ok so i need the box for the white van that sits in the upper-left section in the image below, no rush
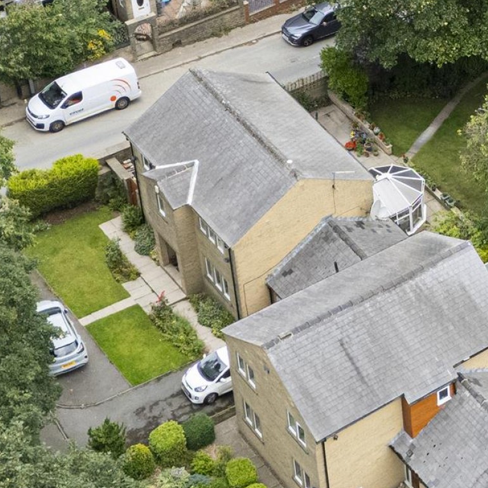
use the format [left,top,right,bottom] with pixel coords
[28,57,135,132]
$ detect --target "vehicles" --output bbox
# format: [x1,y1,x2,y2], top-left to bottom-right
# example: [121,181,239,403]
[31,295,94,374]
[28,57,135,132]
[181,338,233,398]
[282,0,355,45]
